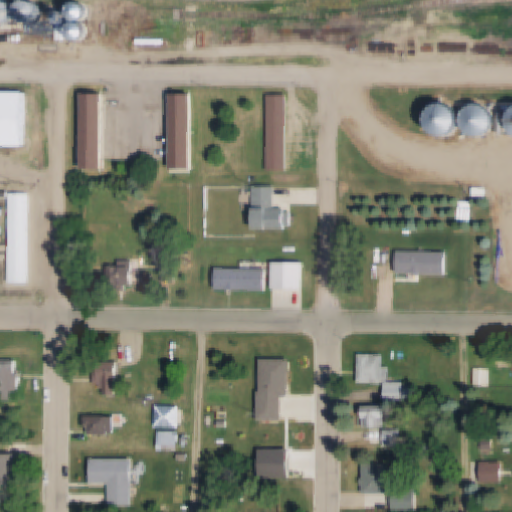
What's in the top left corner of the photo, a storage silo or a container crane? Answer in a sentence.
You can see a storage silo in the top left corner of the photo.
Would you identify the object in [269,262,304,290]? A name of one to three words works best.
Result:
building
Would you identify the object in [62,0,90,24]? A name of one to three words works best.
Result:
silo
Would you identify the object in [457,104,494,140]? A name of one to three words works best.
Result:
silo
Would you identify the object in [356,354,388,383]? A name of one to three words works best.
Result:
house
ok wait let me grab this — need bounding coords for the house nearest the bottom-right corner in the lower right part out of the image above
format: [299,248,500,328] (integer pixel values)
[476,462,500,483]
